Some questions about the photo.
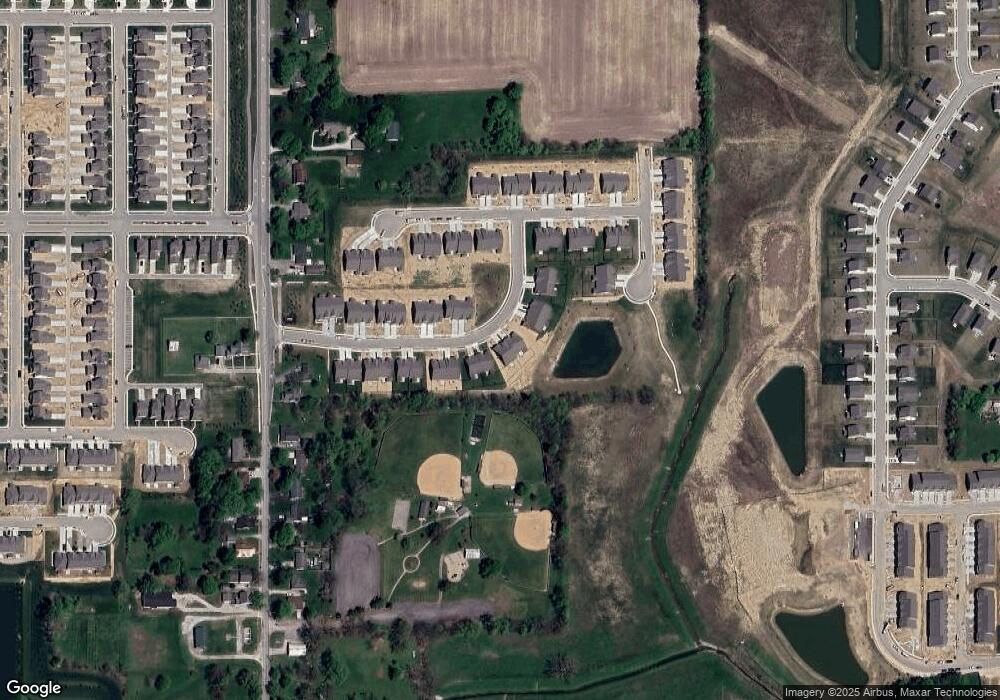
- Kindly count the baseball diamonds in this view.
3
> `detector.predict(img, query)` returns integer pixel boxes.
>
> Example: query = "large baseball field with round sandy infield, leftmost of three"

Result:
[374,411,465,502]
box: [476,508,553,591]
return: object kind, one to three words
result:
baseball field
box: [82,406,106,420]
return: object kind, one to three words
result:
house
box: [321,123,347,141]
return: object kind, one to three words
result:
house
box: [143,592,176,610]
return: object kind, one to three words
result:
barn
